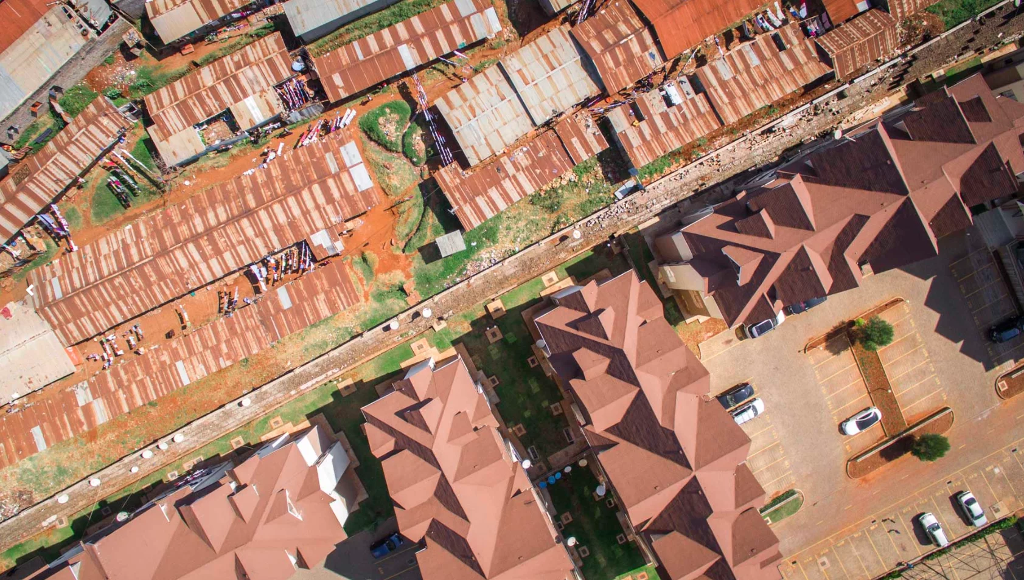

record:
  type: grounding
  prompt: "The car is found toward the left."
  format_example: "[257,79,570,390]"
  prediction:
[365,530,406,561]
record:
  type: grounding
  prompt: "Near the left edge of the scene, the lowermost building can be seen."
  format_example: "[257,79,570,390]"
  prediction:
[13,429,362,580]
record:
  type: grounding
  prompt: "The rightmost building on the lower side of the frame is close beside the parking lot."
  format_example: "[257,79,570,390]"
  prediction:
[535,269,783,580]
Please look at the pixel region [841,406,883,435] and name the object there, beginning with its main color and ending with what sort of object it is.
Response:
white car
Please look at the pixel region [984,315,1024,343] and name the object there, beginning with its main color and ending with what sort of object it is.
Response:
black car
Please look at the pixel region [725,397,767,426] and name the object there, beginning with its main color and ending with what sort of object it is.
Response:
white car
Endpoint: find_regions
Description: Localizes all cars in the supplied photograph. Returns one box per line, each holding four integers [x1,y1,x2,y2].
[713,382,755,412]
[954,488,987,529]
[365,530,406,561]
[917,508,951,550]
[841,406,883,435]
[737,314,782,343]
[984,315,1024,343]
[783,296,827,318]
[725,397,767,426]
